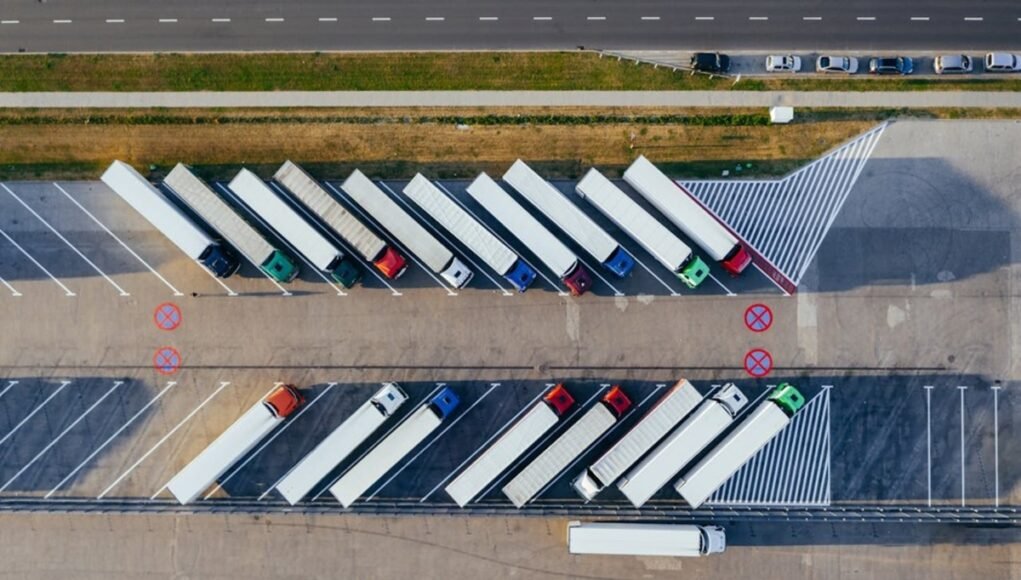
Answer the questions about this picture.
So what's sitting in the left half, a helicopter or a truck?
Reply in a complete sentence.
Visible in the left half is a truck.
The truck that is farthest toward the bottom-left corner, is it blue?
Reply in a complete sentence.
No, the color of the truck that is farthest toward the bottom-left corner is white.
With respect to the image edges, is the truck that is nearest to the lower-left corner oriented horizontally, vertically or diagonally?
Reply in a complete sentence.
The truck that is nearest to the lower-left corner is oriented diagonally.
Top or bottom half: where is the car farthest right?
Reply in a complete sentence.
The top half of the photo is where the car farthest right is.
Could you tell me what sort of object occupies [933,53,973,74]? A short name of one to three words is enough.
car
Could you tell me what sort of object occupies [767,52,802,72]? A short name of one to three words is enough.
car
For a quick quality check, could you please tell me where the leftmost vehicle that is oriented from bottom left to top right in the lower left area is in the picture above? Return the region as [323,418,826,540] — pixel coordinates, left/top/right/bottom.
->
[167,381,308,505]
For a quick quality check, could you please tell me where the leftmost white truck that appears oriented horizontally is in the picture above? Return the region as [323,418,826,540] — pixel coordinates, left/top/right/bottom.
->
[567,519,727,556]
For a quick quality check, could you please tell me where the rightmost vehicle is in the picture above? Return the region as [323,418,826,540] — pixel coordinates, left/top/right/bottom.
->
[984,51,1021,72]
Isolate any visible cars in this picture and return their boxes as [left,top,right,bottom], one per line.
[933,53,973,74]
[868,54,913,75]
[690,50,728,72]
[984,51,1021,72]
[767,52,802,72]
[817,54,858,73]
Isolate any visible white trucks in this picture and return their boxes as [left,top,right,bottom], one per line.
[100,159,244,281]
[404,173,537,293]
[228,168,364,292]
[167,381,308,505]
[567,519,727,556]
[622,155,755,276]
[446,383,576,507]
[329,383,463,507]
[504,159,636,279]
[575,167,711,289]
[277,380,412,505]
[617,382,748,506]
[467,171,595,297]
[571,378,701,502]
[341,169,475,291]
[673,381,807,508]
